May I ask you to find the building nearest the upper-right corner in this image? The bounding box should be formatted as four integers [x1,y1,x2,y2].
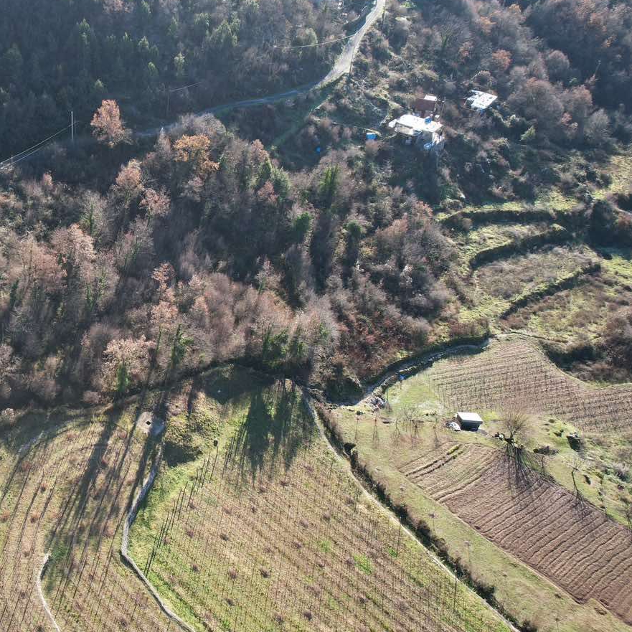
[463,91,498,122]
